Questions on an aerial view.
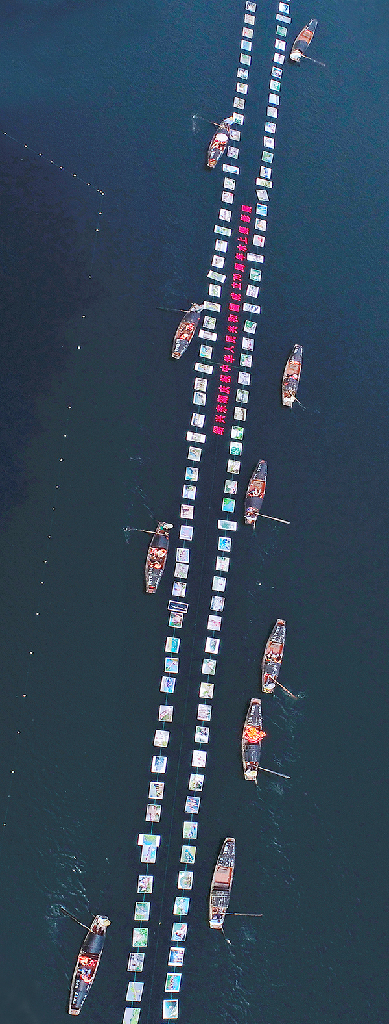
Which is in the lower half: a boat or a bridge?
boat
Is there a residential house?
No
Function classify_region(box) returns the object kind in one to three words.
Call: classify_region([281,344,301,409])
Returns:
boat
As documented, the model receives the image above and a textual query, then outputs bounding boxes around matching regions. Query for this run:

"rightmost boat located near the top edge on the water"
[290,18,318,65]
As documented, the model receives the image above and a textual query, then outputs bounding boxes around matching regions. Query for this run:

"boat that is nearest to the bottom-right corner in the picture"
[210,836,234,929]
